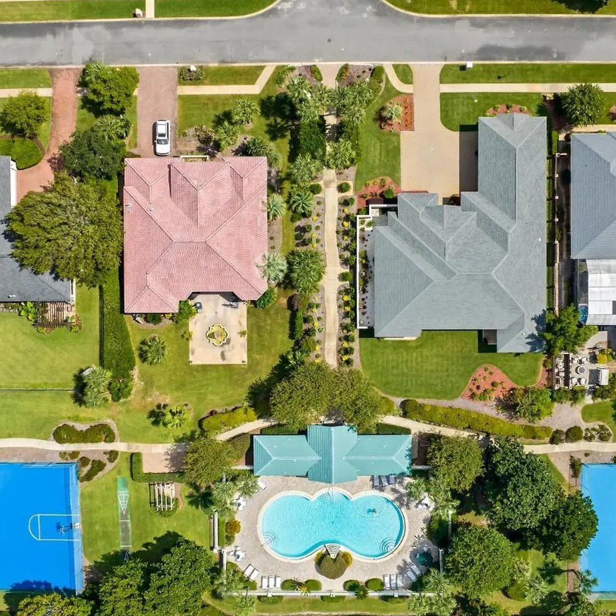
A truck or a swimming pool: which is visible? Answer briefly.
swimming pool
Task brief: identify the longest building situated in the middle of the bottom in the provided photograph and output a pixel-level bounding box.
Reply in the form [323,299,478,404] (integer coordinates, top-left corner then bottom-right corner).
[253,425,412,483]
